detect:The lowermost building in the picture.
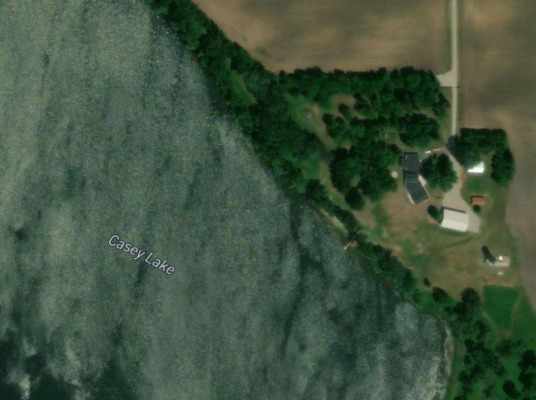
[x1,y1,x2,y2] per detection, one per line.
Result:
[441,209,470,233]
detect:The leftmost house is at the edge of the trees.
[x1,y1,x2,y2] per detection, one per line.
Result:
[401,155,429,205]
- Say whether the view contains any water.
Yes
